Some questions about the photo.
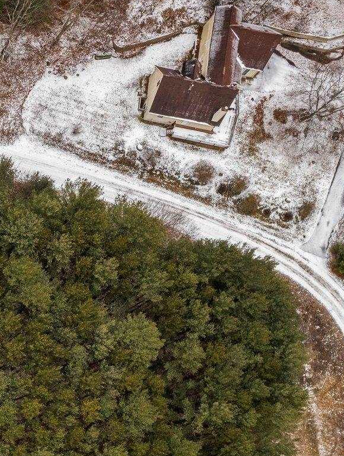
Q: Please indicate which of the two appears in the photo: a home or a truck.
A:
home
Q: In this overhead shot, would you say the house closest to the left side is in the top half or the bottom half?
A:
top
